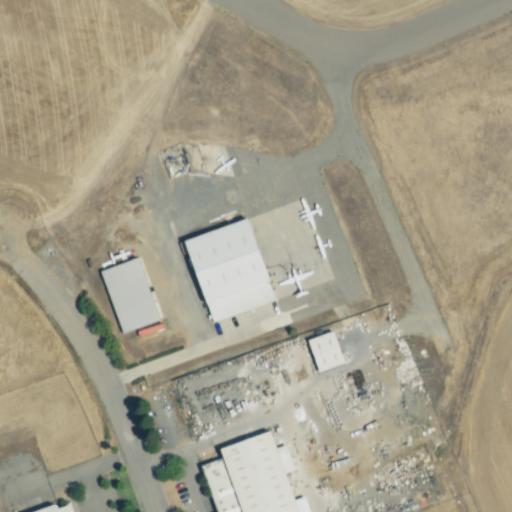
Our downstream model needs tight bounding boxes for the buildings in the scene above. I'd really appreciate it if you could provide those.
[308,332,346,373]
[102,258,163,334]
[27,498,76,512]
[202,432,311,512]
[185,219,276,324]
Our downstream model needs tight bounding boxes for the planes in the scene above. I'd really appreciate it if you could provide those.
[215,156,236,174]
[280,268,314,298]
[316,234,334,258]
[102,255,122,266]
[210,212,236,224]
[302,198,325,230]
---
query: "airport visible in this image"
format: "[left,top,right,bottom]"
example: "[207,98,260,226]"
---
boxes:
[172,0,512,342]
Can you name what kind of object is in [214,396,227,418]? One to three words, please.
vehicle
